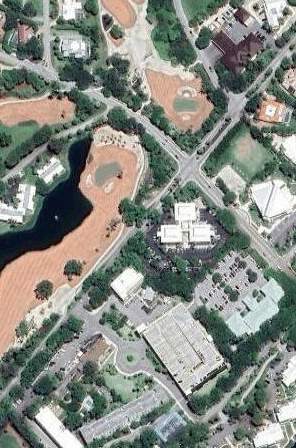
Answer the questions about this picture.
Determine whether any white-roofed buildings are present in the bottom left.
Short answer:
Yes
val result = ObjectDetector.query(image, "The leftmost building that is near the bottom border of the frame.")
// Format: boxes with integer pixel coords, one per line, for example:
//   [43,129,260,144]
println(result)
[32,406,82,448]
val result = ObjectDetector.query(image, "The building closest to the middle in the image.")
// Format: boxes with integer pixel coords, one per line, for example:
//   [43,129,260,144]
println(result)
[160,224,183,244]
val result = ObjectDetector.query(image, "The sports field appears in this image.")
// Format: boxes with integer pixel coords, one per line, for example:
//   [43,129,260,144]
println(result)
[225,128,271,181]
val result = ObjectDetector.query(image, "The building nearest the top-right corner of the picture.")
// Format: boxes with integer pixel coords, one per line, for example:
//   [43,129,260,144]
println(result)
[262,0,289,28]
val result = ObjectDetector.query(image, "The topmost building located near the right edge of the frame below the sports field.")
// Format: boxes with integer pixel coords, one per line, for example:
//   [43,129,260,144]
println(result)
[250,180,296,220]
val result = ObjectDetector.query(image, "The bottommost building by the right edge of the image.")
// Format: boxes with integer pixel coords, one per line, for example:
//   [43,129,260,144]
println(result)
[254,419,287,448]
